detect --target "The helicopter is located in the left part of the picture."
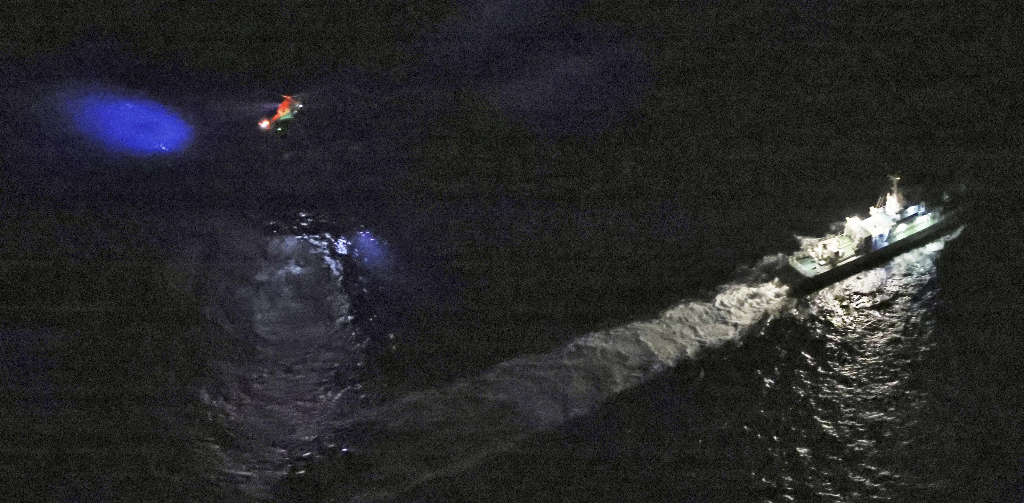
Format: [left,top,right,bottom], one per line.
[257,80,309,130]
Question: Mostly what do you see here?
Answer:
water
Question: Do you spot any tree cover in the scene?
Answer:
No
